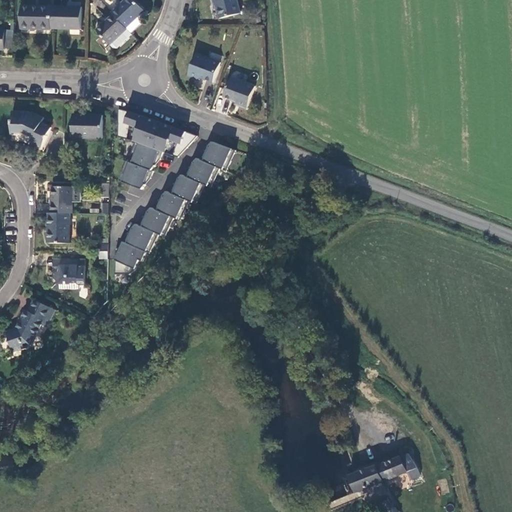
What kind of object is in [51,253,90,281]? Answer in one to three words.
house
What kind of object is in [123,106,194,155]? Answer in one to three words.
building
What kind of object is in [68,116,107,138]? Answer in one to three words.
house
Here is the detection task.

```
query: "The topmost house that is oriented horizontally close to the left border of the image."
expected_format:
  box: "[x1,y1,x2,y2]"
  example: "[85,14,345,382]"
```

[18,7,86,30]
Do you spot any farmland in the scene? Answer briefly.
Yes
